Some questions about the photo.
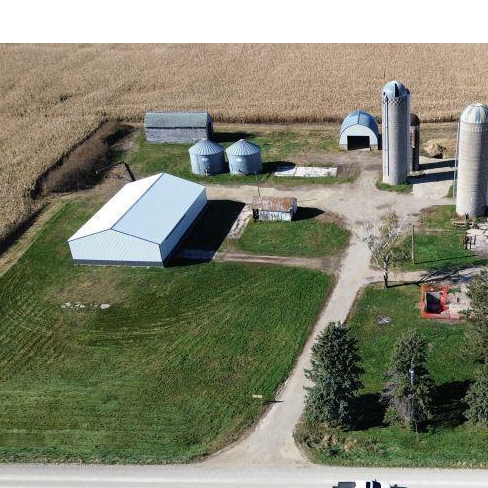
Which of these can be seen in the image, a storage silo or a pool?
storage silo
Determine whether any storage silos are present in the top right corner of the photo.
Yes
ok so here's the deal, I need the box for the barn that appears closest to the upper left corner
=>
[142,110,216,142]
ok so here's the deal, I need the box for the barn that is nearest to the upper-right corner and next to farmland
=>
[340,109,379,150]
